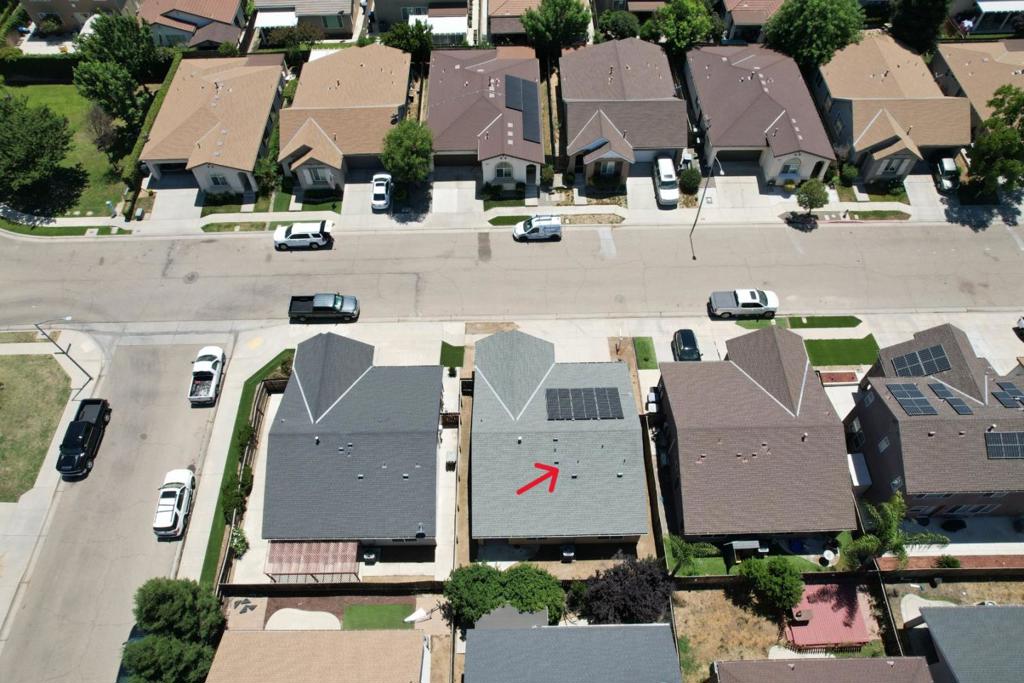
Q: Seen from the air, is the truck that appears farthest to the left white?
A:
No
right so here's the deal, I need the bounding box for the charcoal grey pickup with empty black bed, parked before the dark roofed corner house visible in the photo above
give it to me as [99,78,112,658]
[288,293,359,322]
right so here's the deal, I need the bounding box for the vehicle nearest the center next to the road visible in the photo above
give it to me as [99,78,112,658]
[512,218,562,244]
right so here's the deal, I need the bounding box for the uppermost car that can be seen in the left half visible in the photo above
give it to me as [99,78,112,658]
[370,175,393,212]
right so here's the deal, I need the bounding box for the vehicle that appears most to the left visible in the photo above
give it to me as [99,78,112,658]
[59,401,110,474]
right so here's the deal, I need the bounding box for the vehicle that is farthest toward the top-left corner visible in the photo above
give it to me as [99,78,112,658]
[270,221,331,252]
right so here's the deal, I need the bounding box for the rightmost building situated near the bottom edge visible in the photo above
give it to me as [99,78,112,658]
[896,599,1024,683]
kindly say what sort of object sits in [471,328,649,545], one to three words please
house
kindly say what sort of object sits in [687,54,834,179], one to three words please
house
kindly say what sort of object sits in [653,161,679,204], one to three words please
vehicle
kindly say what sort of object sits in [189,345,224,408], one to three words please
truck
